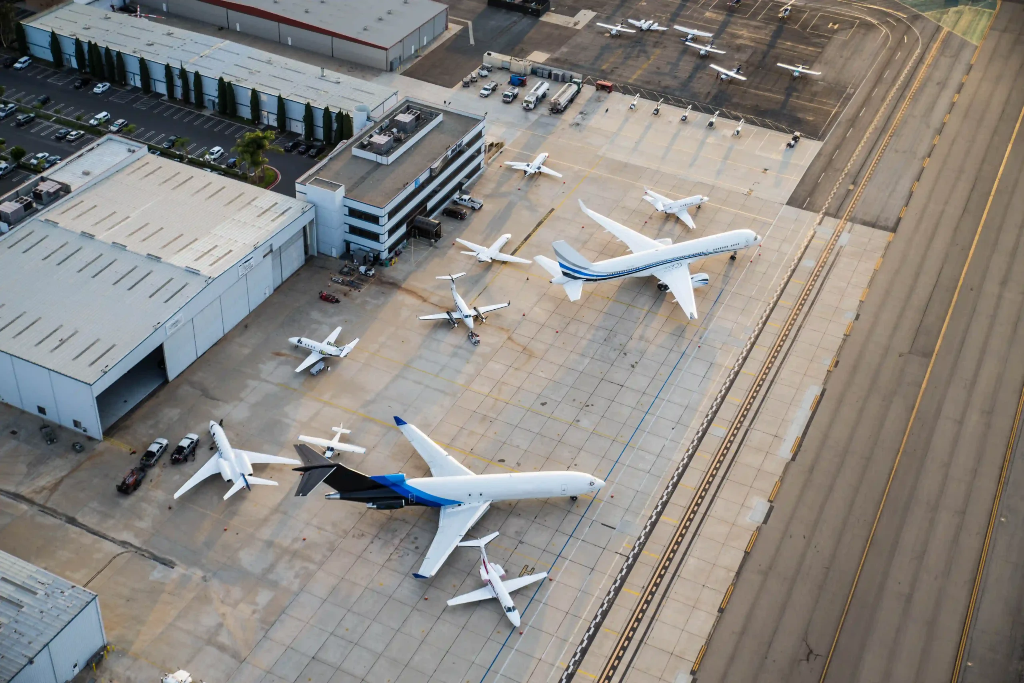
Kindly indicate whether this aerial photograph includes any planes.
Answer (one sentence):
Yes, the picture does show a plane.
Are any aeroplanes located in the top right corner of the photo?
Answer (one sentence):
Yes, an aeroplane appears in the top right corner of the photo.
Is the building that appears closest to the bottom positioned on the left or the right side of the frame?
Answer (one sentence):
The building that appears closest to the bottom sits on the left side.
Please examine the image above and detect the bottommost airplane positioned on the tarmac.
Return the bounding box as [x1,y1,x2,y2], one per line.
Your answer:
[445,531,548,627]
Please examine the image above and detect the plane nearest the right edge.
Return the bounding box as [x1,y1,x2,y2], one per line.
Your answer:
[776,62,819,80]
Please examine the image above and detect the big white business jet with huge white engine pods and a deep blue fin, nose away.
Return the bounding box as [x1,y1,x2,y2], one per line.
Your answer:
[173,422,299,502]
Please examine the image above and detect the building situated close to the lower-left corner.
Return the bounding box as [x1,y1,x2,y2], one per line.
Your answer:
[0,550,107,683]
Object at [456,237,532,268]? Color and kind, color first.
white airplane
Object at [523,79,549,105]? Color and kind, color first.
white truck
